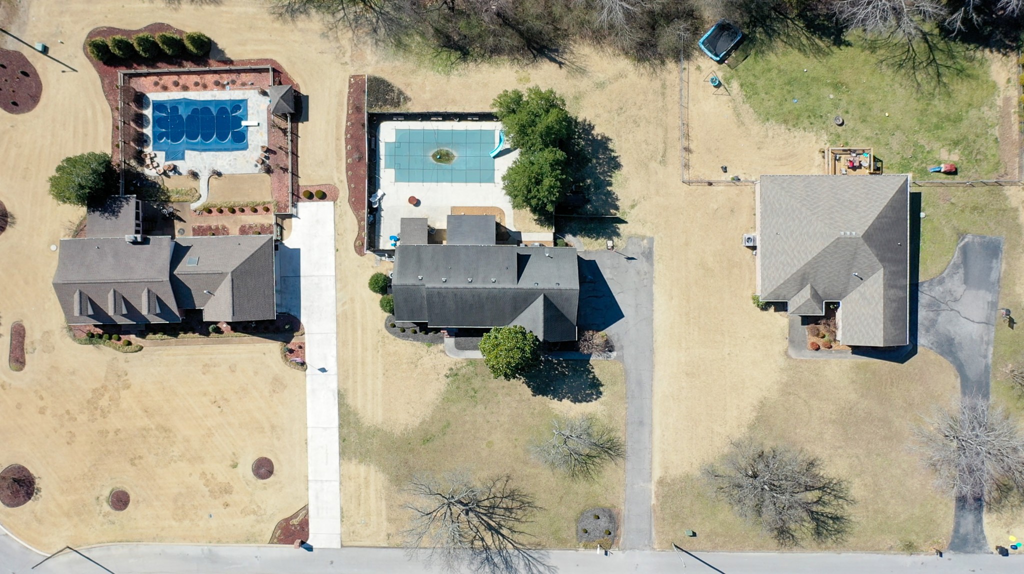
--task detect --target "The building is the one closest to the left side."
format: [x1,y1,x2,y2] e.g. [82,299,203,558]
[52,195,280,326]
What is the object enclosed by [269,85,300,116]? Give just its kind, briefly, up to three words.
gazebo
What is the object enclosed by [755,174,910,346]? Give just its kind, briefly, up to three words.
house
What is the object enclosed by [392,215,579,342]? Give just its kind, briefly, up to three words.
house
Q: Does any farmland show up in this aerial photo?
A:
No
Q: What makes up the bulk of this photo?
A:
grass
